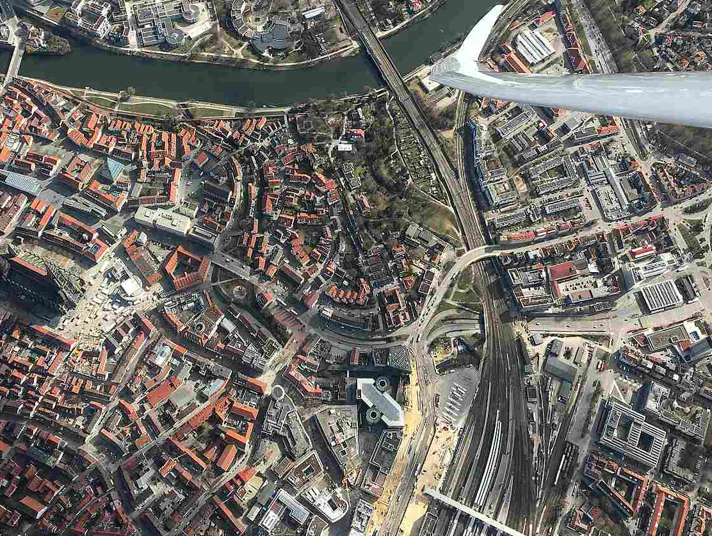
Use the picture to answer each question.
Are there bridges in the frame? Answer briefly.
Yes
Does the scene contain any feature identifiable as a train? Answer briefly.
Yes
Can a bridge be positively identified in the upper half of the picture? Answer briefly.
Yes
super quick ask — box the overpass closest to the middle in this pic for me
[445,244,526,279]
